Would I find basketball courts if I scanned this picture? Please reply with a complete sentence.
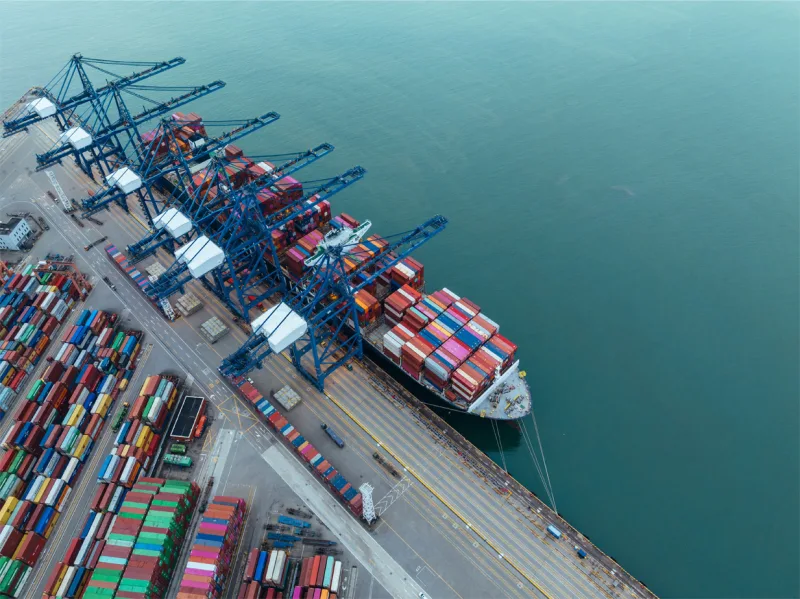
No, no basketball court is visible in the scene.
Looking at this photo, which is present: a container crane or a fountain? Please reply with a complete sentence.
Visible in the photo is a container crane.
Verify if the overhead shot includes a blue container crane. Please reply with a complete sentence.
Yes, the frame does contain a blue container crane.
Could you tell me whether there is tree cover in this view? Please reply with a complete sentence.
No, no tree cover is visible.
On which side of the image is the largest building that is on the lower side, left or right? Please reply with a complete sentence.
It is on the left.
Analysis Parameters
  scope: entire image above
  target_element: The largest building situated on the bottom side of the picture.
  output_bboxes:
[169,394,208,444]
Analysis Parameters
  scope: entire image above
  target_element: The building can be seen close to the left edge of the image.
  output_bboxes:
[0,217,31,247]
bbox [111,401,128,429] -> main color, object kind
green vehicle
